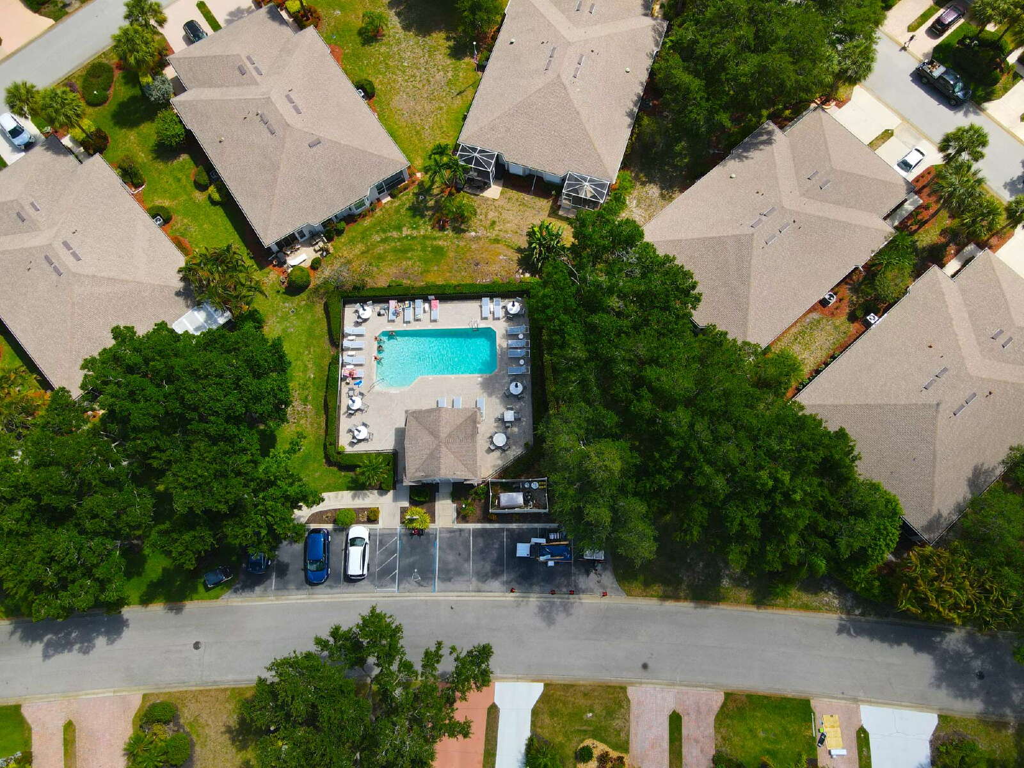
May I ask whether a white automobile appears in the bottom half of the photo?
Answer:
Yes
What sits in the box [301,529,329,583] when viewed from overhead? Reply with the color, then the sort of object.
blue car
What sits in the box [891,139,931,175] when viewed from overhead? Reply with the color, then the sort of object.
white car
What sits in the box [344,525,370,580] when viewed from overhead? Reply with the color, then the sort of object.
white car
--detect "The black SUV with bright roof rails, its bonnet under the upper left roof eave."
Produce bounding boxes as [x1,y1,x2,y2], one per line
[183,19,207,46]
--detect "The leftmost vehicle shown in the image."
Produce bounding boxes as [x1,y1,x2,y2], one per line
[0,111,33,150]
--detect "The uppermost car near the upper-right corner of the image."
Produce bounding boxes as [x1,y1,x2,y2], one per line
[933,0,972,33]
